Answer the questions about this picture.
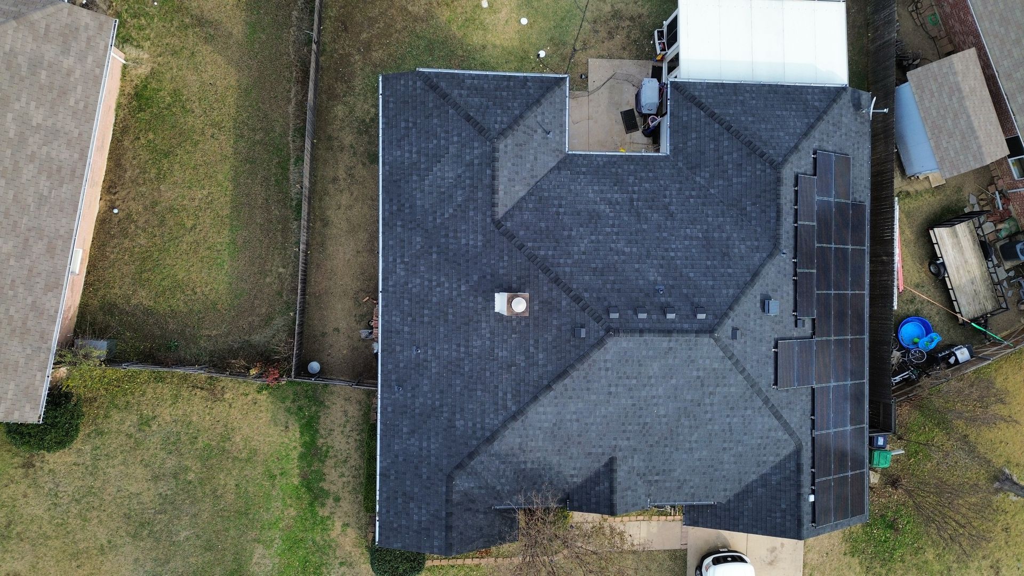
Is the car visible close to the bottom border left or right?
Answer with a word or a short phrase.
right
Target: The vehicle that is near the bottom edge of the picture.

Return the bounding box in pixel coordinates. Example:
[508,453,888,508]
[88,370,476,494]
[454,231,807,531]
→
[697,546,753,576]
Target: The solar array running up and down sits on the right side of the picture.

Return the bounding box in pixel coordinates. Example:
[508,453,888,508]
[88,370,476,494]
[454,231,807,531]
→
[774,151,868,528]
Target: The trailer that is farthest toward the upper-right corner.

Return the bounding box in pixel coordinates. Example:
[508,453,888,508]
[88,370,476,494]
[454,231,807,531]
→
[928,199,1010,345]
